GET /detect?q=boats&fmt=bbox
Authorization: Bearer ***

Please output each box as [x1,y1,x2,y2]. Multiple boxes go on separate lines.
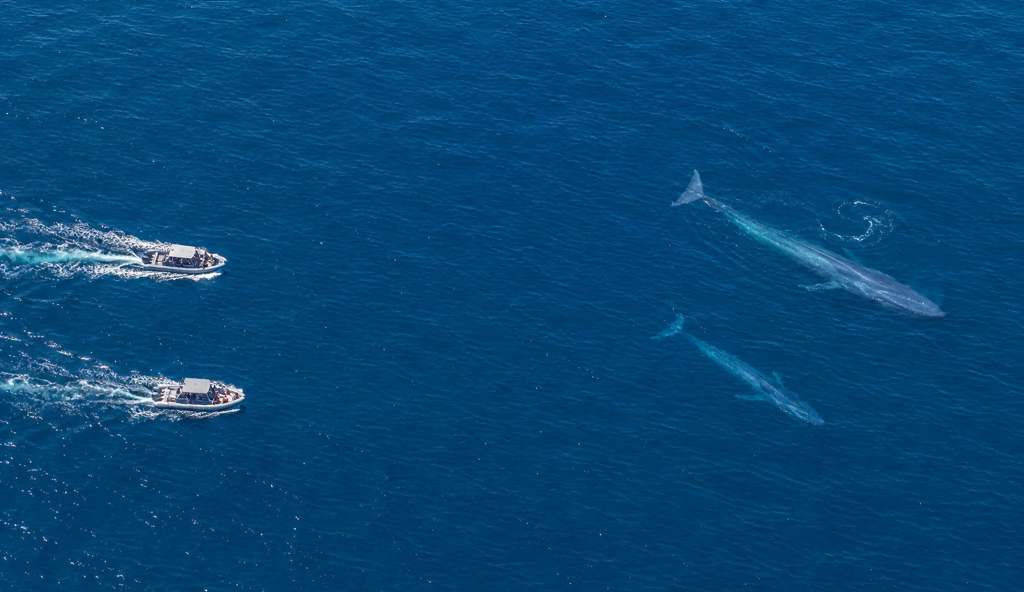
[152,373,244,408]
[141,239,226,271]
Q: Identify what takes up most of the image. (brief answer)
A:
water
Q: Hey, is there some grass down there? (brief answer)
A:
No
